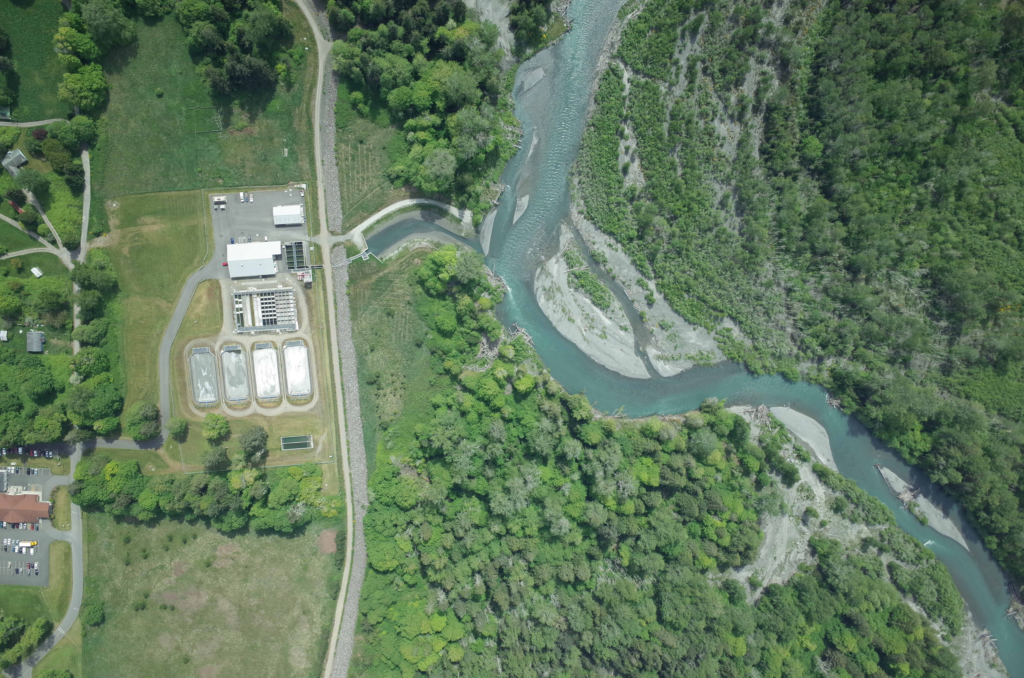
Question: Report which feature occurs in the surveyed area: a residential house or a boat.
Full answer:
Visible in the photo is a residential house.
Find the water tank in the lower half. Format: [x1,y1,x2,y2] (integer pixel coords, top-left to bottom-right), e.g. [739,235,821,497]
[280,435,314,451]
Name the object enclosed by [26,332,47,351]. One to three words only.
house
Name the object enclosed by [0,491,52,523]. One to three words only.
building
